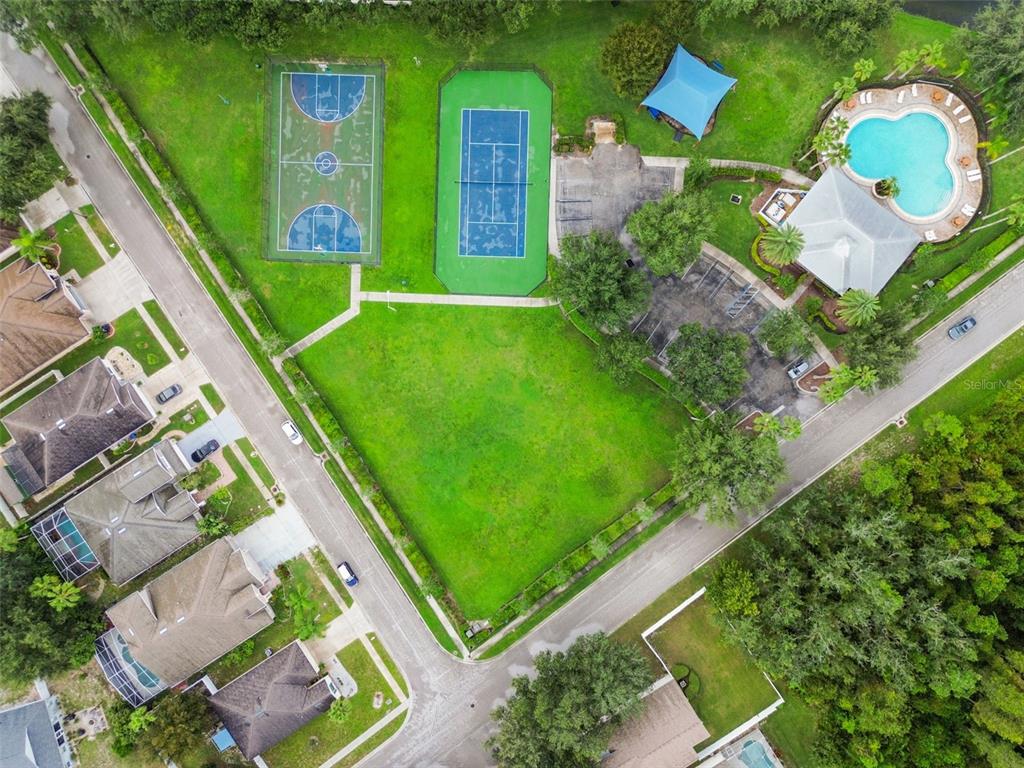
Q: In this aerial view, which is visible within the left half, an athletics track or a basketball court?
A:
basketball court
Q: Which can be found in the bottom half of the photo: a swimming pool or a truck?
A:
swimming pool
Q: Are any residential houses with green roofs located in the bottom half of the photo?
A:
No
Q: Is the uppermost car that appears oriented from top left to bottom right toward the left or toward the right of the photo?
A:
left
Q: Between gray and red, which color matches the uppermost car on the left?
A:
gray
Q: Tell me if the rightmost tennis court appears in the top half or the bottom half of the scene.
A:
top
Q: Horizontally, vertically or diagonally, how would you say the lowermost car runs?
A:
diagonally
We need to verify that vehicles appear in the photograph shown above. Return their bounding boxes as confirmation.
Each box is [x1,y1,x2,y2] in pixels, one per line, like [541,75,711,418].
[946,316,977,340]
[191,439,222,463]
[336,558,361,588]
[282,419,306,448]
[156,383,186,405]
[784,360,810,381]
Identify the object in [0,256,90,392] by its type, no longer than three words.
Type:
house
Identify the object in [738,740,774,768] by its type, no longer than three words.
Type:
swimming pool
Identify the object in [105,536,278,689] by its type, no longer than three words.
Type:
house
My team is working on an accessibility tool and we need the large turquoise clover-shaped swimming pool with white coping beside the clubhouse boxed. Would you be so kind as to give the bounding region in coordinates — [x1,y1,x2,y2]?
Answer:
[818,83,983,243]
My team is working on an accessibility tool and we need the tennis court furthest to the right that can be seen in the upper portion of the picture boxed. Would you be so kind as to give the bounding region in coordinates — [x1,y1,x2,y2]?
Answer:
[434,70,552,294]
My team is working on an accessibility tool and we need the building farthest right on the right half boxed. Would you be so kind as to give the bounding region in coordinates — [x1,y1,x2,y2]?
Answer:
[783,166,921,297]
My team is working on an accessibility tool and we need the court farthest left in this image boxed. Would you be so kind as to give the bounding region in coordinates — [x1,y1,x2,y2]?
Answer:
[267,63,384,264]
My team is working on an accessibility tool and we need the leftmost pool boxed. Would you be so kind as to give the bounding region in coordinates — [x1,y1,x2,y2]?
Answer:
[59,518,96,566]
